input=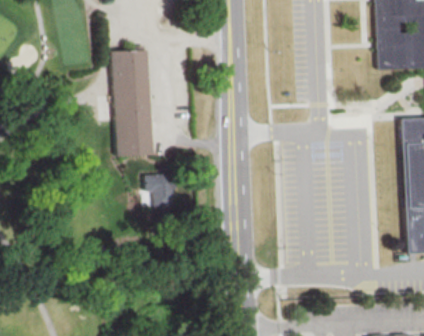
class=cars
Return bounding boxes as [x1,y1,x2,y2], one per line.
[179,114,190,120]
[224,118,229,129]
